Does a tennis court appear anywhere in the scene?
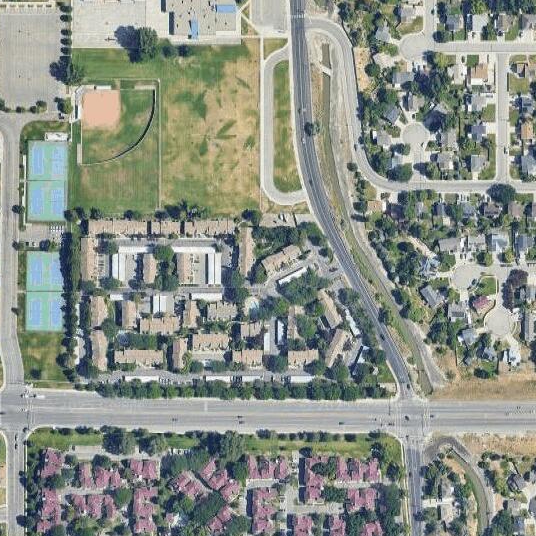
Yes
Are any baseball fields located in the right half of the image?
No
